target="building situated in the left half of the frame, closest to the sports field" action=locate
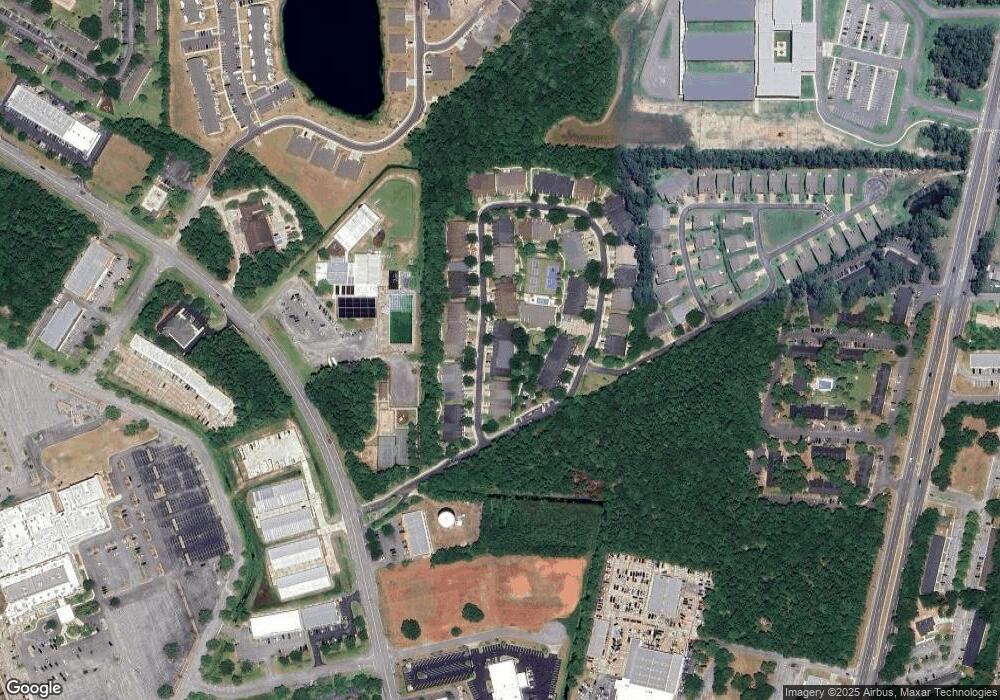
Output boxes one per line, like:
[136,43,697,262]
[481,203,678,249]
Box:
[335,205,378,251]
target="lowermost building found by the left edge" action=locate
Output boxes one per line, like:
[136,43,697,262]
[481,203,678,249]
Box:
[0,475,122,624]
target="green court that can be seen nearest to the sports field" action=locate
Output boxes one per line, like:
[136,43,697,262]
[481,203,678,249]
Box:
[390,294,412,344]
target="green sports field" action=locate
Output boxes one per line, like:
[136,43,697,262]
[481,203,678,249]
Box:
[374,177,414,238]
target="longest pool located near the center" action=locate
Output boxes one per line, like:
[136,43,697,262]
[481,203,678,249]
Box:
[525,294,561,308]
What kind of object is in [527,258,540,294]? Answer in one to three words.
sports court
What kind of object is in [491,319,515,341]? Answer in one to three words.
house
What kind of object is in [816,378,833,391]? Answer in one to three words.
swimming pool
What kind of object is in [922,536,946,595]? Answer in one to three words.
building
